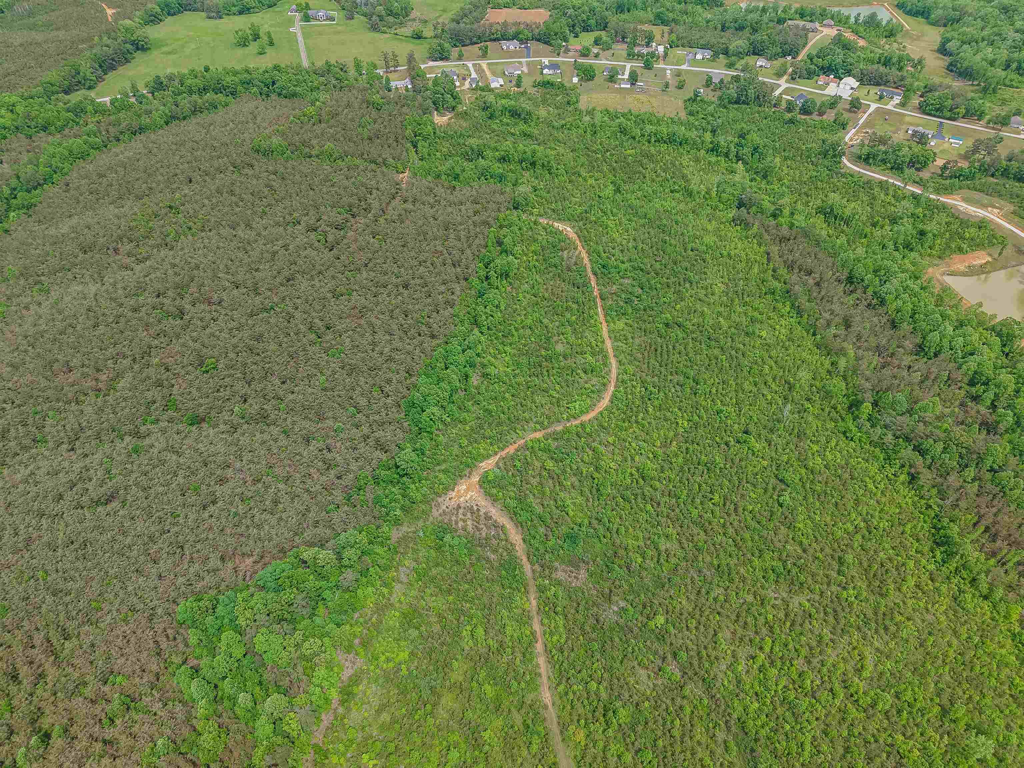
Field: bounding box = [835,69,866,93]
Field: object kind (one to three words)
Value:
house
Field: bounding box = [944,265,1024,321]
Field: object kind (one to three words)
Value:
pond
